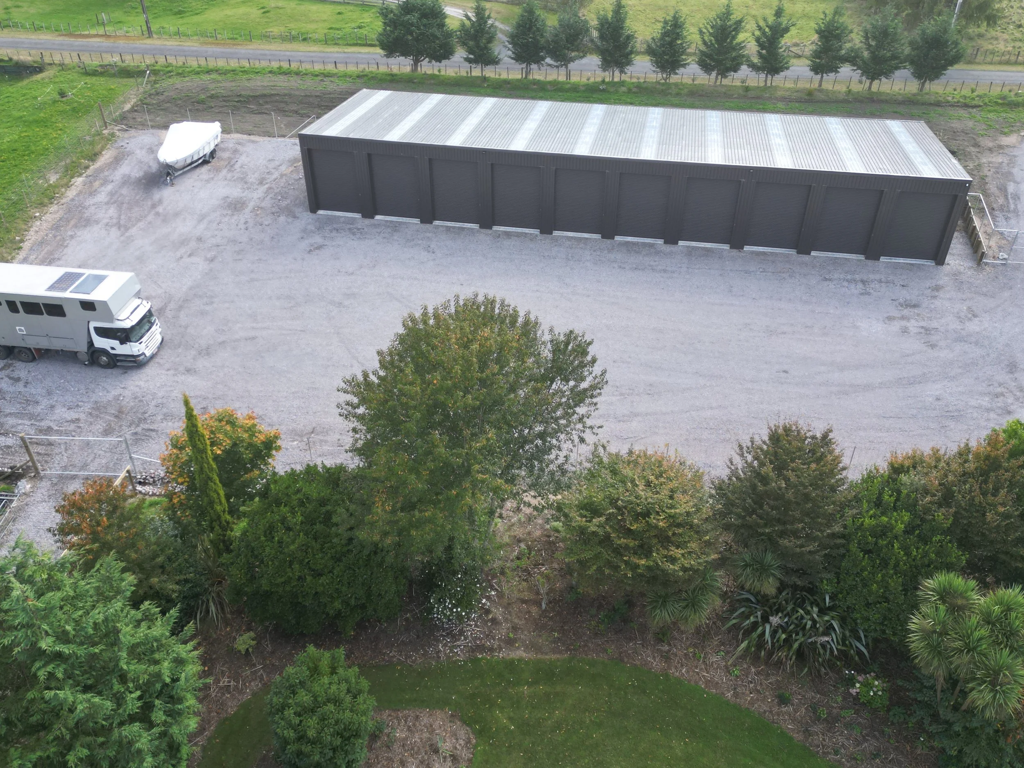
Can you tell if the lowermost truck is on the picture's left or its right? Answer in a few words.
left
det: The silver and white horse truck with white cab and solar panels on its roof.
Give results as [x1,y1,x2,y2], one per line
[0,263,167,368]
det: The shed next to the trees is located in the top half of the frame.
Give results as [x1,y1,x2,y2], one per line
[296,87,974,266]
